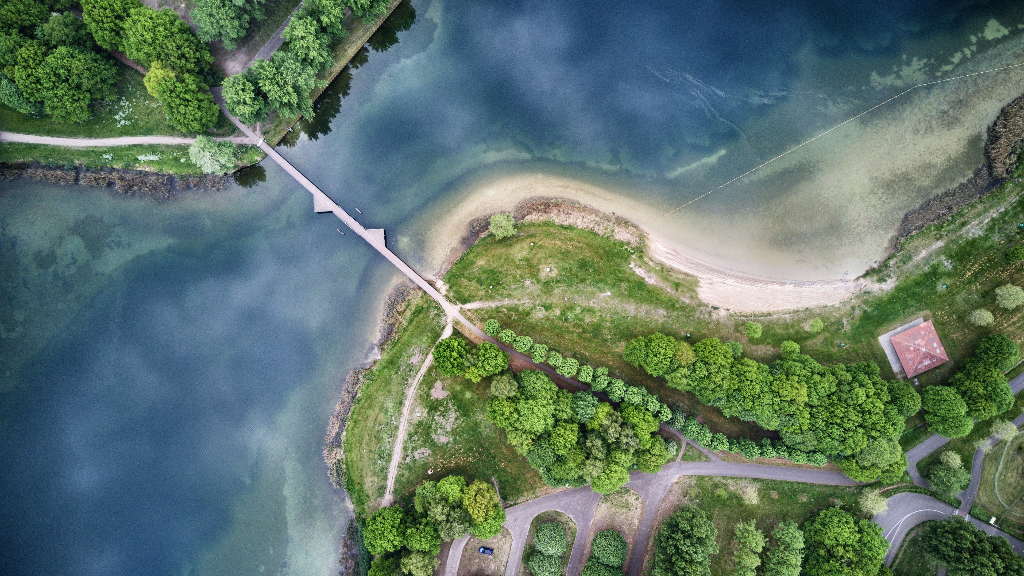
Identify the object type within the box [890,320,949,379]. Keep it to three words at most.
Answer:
building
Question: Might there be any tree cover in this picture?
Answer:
Yes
